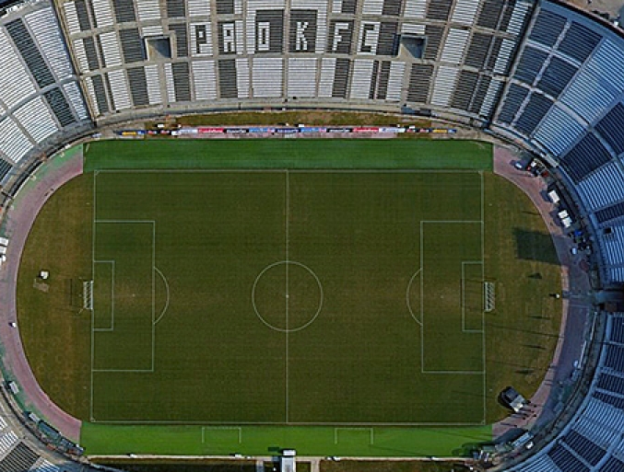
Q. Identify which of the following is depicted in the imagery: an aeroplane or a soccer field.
soccer field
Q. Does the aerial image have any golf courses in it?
No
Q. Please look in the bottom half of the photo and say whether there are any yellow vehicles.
No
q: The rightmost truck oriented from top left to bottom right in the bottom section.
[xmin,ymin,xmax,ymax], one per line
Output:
[496,383,525,414]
